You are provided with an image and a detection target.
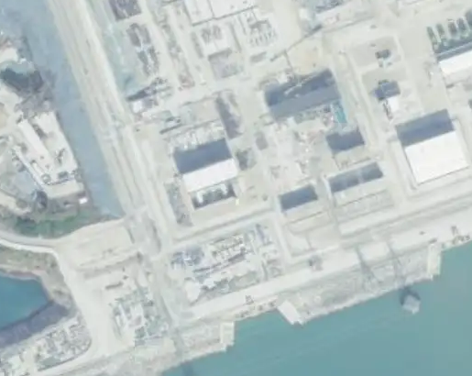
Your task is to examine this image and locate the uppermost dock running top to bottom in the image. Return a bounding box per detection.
[429,248,442,279]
